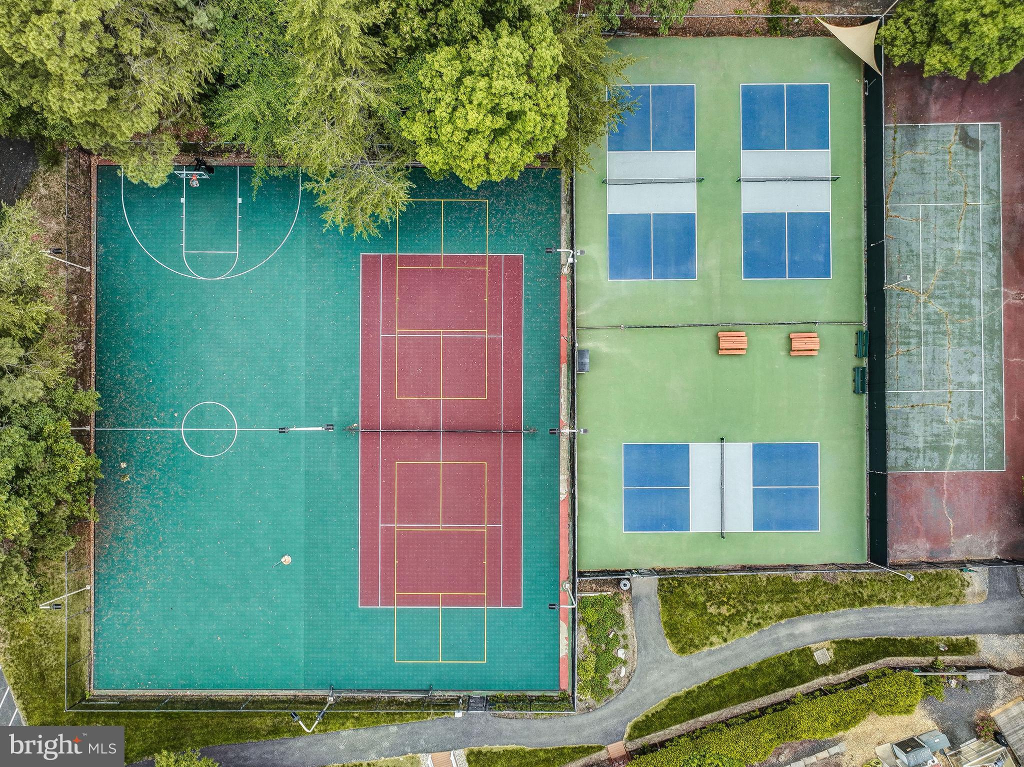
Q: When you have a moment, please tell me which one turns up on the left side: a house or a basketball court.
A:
basketball court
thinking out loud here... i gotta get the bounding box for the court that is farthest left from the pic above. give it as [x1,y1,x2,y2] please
[94,166,304,690]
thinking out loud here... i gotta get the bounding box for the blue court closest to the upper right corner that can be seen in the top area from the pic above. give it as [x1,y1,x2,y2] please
[741,83,831,279]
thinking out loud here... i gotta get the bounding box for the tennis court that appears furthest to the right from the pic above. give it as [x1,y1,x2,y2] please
[868,0,1024,560]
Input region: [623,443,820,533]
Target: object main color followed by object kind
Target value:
blue sports court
